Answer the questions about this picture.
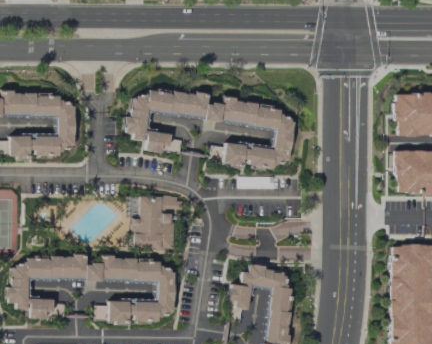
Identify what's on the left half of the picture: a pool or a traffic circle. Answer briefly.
pool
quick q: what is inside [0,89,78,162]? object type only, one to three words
building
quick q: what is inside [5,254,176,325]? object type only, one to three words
building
